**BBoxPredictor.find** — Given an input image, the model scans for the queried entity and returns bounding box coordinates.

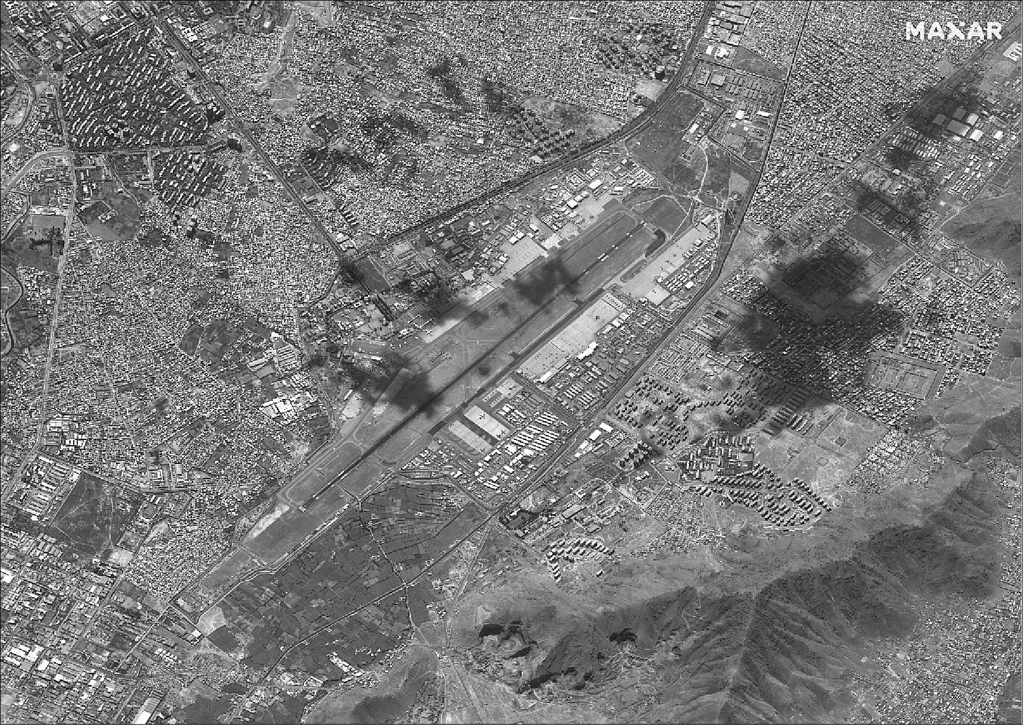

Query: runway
[298,219,646,513]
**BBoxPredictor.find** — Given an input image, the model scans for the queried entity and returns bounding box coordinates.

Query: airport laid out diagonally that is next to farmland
[170,193,721,621]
